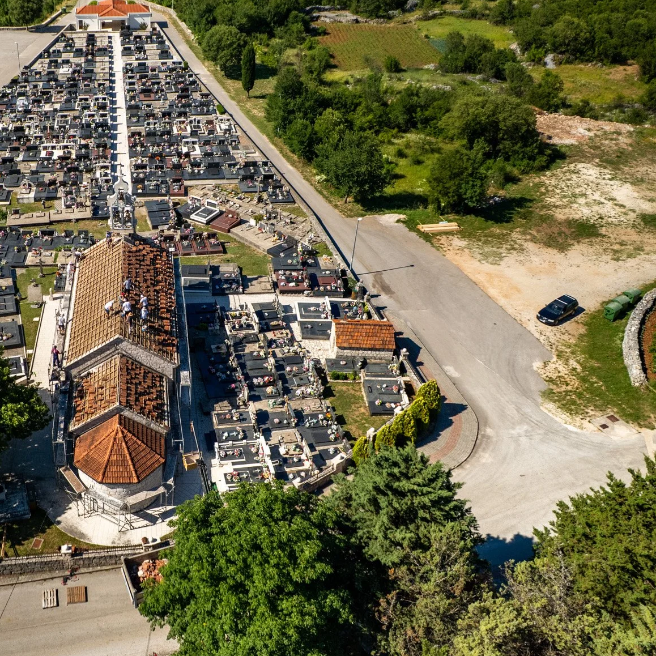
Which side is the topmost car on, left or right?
right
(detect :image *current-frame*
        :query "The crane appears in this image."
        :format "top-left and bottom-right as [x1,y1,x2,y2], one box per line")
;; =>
[190,419,221,499]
